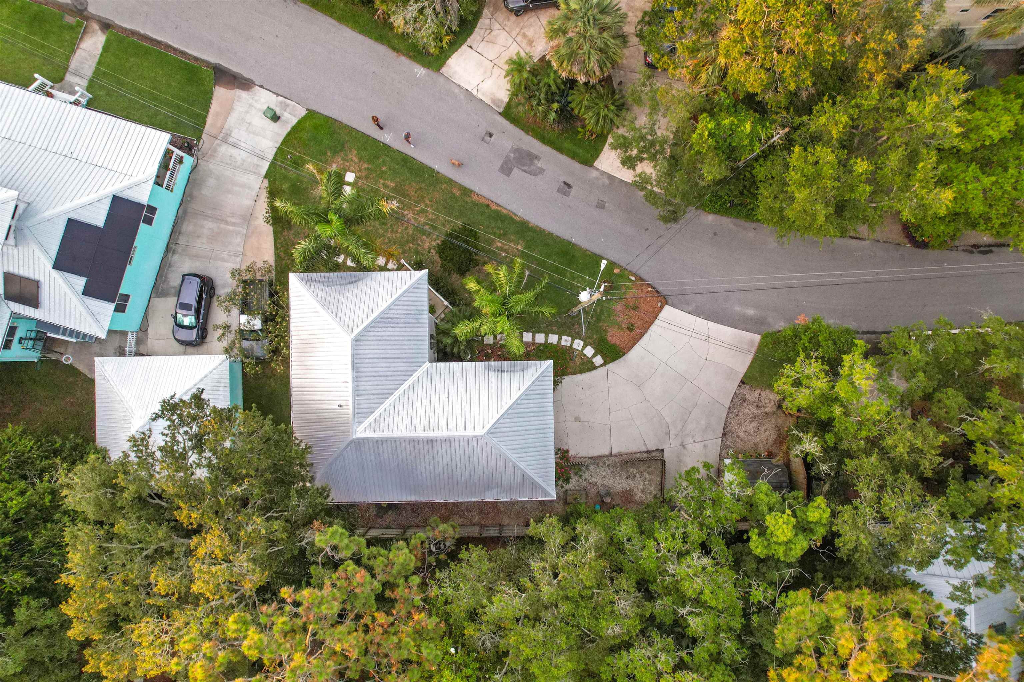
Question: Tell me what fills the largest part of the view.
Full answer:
The largest share of the image is taken up by trees.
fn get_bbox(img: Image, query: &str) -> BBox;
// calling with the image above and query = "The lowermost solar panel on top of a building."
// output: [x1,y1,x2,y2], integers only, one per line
[3,270,40,310]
